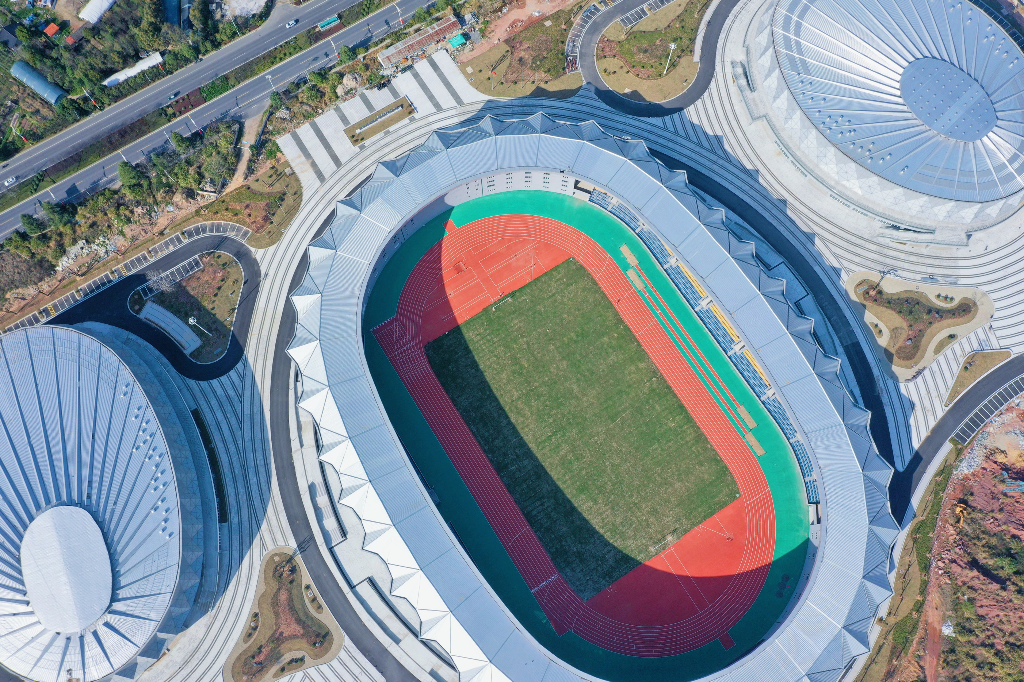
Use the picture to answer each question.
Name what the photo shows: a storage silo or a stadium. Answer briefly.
stadium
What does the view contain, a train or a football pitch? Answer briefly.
football pitch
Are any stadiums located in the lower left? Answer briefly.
Yes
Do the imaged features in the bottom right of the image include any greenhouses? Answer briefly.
No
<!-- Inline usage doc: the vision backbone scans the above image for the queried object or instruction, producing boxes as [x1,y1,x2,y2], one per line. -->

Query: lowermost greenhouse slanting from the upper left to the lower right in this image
[11,61,68,107]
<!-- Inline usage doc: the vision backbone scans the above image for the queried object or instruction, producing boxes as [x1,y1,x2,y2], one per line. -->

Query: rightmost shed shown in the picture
[378,15,461,69]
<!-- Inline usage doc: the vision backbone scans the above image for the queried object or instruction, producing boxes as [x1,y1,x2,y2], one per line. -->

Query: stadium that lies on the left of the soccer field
[0,321,223,682]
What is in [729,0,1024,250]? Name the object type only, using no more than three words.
stadium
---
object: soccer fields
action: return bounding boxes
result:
[424,257,741,602]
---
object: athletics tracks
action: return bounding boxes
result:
[362,188,811,682]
